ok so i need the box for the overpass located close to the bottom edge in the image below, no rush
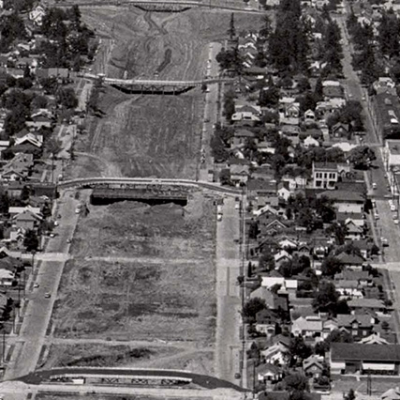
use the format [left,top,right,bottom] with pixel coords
[0,363,253,391]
